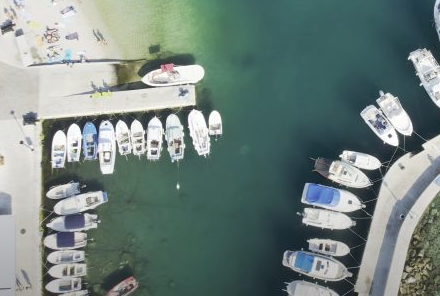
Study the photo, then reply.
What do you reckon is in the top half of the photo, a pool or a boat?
boat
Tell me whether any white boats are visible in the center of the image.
Yes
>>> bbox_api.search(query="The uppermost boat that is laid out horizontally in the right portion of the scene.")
[335,149,386,170]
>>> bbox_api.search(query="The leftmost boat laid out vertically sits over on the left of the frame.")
[41,122,67,176]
